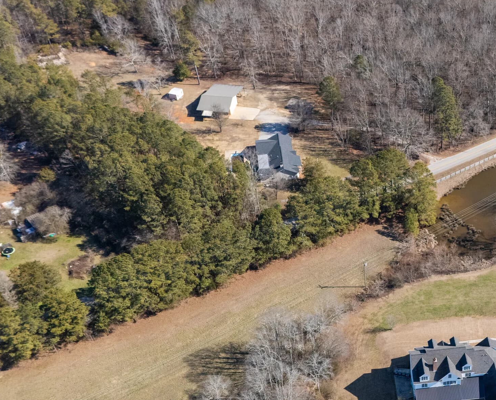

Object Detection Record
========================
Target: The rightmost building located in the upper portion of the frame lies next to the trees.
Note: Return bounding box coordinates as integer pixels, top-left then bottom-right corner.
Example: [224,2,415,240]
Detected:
[256,132,306,184]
